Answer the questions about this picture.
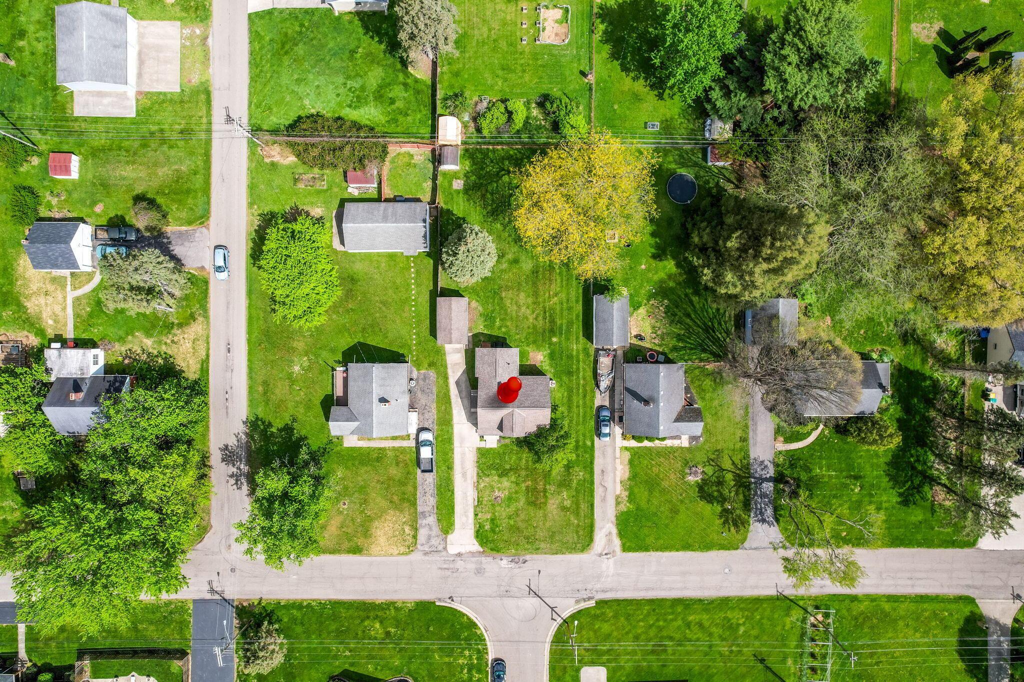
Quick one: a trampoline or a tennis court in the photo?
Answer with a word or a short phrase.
trampoline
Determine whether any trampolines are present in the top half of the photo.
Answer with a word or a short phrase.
Yes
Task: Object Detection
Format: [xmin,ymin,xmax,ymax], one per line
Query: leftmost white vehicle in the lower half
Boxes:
[417,428,435,474]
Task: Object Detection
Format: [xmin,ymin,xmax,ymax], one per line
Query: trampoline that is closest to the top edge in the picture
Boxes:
[666,174,697,204]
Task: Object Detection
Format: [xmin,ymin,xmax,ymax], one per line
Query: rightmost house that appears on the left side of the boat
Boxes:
[471,348,552,439]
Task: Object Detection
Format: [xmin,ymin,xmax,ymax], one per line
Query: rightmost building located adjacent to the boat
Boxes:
[623,364,706,440]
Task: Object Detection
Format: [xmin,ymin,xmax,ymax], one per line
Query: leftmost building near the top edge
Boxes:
[53,1,137,93]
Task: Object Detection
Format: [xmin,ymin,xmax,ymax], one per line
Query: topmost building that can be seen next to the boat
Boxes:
[593,294,629,346]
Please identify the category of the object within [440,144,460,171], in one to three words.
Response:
shed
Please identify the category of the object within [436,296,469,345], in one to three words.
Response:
building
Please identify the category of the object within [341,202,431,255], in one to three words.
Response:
building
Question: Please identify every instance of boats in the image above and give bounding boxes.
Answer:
[598,347,614,394]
